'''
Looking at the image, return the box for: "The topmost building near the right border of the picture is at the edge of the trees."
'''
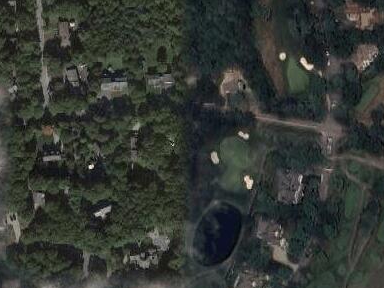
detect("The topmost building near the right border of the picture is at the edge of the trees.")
[346,2,384,29]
